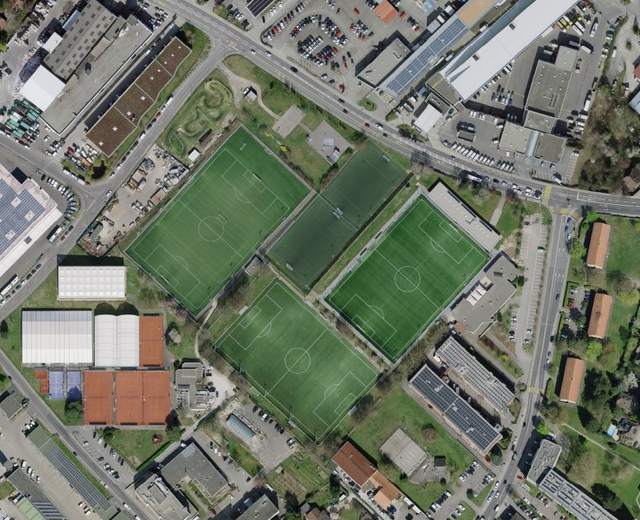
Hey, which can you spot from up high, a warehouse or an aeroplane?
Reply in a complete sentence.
The one in the frame is a warehouse.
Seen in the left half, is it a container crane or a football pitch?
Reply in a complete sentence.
You can see a football pitch in the left half.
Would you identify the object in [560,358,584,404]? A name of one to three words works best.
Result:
house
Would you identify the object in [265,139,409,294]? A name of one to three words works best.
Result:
sports field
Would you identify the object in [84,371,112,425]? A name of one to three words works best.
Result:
tennis court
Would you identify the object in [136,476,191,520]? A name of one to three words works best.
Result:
building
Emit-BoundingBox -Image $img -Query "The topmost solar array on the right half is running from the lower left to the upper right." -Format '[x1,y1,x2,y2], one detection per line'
[387,19,462,91]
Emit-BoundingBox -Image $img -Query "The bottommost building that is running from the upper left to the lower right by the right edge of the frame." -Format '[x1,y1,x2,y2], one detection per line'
[539,470,618,520]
